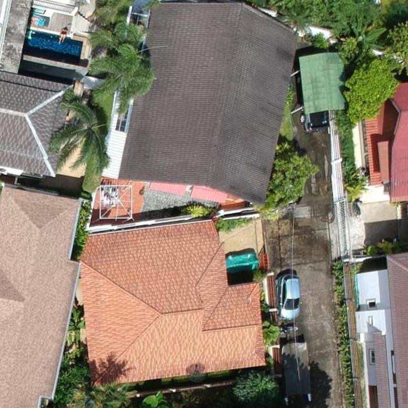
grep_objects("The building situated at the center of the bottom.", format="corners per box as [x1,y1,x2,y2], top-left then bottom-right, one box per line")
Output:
[78,220,267,384]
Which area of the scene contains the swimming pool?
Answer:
top left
